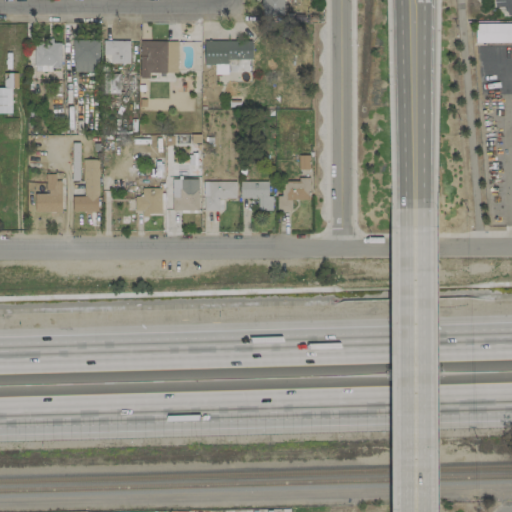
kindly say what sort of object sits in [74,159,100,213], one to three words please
house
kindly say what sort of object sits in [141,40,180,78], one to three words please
house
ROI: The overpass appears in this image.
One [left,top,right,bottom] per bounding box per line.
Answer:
[388,0,442,512]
